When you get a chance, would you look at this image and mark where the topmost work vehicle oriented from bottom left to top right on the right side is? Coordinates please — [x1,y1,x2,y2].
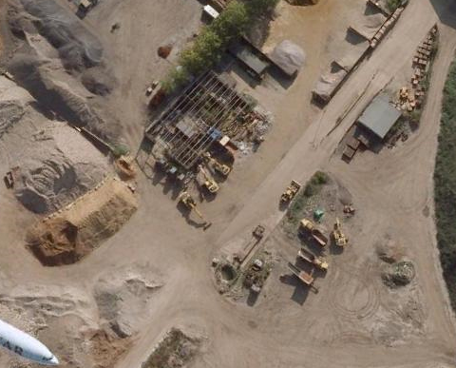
[283,177,302,202]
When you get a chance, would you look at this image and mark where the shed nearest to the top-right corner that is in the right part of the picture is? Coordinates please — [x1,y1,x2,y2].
[360,96,400,137]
